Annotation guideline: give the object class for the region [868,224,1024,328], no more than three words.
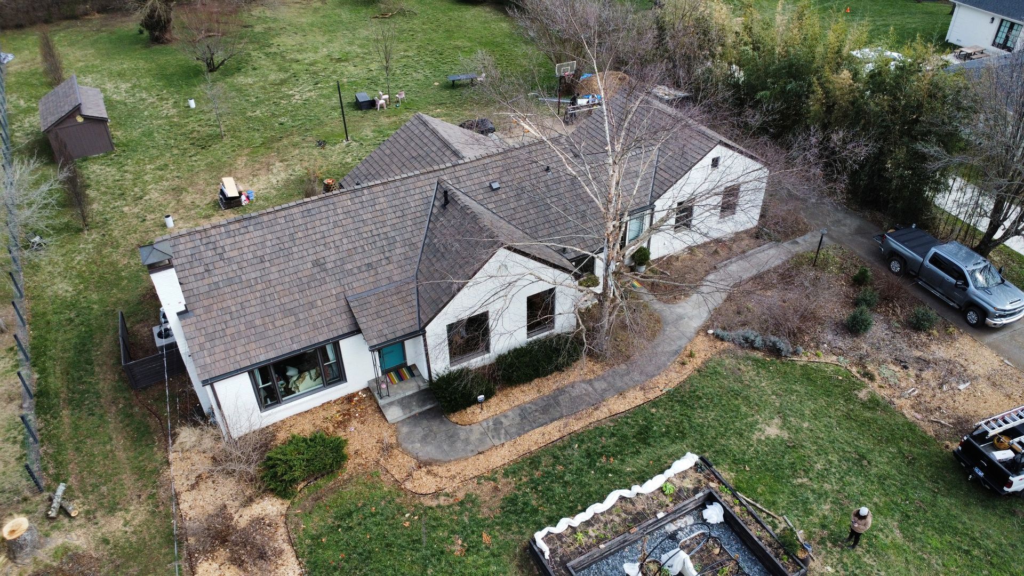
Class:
truck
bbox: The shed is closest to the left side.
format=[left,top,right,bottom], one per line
[37,75,114,162]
